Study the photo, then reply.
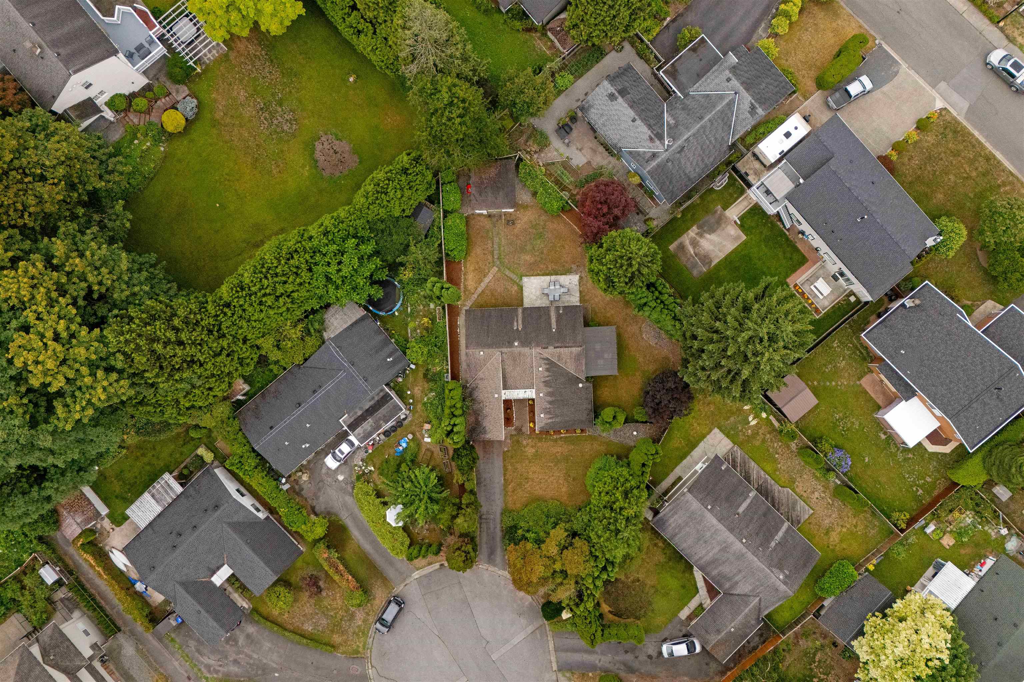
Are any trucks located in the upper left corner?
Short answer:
No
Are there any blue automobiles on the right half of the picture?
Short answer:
No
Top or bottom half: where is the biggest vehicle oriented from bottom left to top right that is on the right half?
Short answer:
top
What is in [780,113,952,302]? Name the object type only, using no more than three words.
house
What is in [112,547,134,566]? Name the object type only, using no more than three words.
boat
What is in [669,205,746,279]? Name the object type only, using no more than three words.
sports court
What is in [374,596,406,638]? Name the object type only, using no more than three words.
car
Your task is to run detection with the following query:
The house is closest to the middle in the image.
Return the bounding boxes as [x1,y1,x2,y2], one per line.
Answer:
[465,304,594,441]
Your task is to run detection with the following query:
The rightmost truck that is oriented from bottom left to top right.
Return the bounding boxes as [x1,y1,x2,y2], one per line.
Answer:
[828,72,877,109]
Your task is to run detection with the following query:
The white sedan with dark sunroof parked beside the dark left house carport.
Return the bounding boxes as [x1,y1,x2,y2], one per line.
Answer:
[322,434,359,471]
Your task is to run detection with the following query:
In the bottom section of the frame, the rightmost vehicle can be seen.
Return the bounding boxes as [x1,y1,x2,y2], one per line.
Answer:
[662,638,705,660]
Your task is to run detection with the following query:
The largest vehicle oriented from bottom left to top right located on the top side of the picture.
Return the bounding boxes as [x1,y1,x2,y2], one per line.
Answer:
[745,109,813,174]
